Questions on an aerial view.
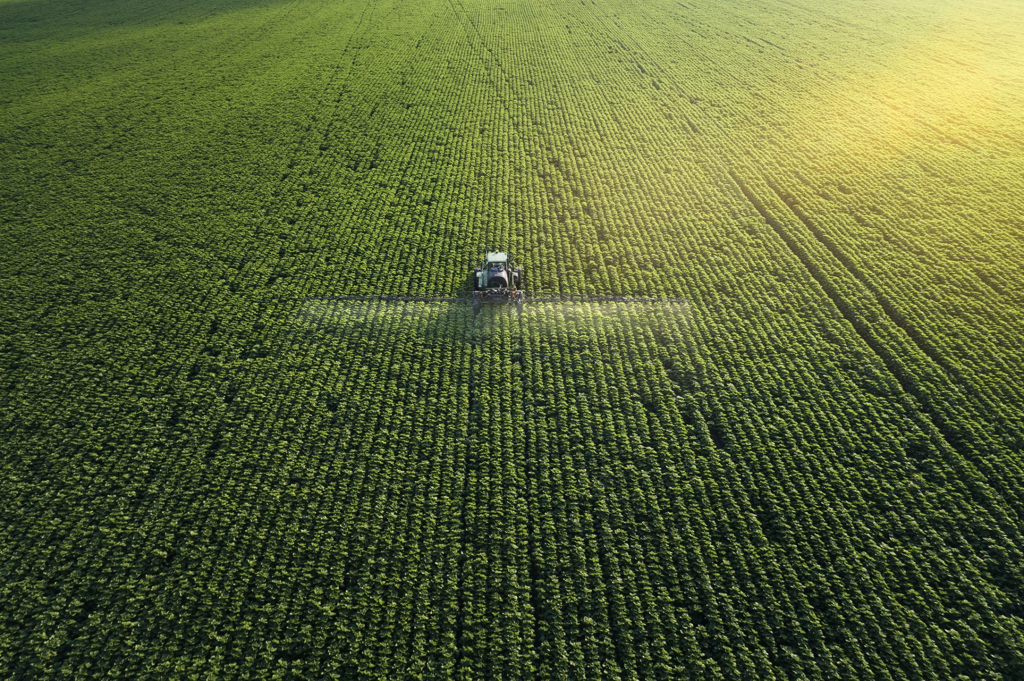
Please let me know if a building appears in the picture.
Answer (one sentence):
No, the photo shows no building.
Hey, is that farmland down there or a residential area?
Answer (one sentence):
The picture captures farmland.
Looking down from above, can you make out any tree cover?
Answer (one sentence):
No, the picture contains no tree cover.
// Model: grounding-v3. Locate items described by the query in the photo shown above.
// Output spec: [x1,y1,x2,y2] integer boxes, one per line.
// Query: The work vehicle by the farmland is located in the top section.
[473,245,522,291]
